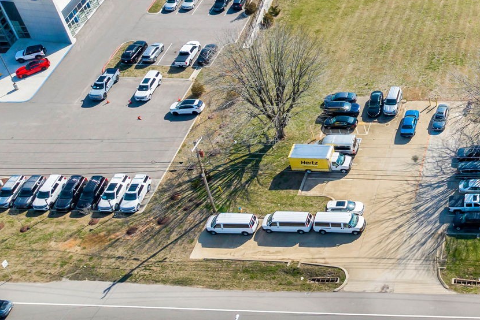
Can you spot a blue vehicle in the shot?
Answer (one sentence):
Yes, there's a blue vehicle here.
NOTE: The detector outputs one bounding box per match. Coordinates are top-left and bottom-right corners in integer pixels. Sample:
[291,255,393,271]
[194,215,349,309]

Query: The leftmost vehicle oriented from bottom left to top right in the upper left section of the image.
[89,68,123,99]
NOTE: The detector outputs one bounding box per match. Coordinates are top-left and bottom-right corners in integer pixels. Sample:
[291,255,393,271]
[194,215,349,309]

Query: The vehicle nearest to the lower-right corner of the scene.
[452,210,480,231]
